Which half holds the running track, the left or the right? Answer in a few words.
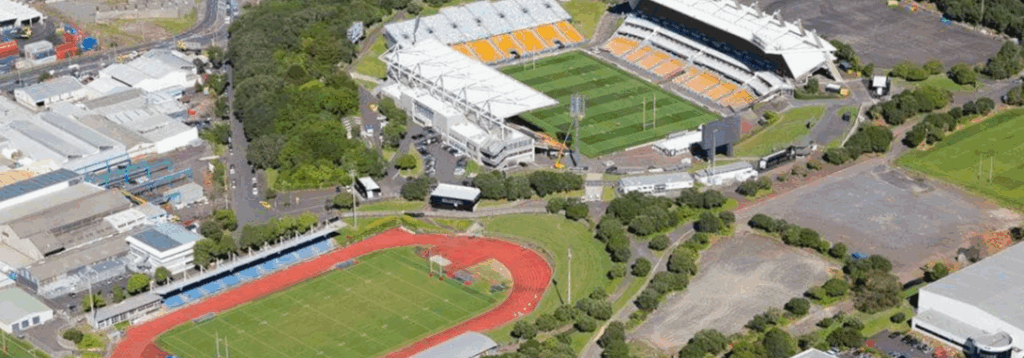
left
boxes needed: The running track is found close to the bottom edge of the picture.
[110,227,552,358]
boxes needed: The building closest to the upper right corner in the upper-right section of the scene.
[866,76,897,98]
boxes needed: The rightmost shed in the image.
[913,240,1024,358]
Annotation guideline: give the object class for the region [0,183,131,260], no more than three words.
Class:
building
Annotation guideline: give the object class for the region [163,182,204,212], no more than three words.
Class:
shed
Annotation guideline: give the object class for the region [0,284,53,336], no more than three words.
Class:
building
